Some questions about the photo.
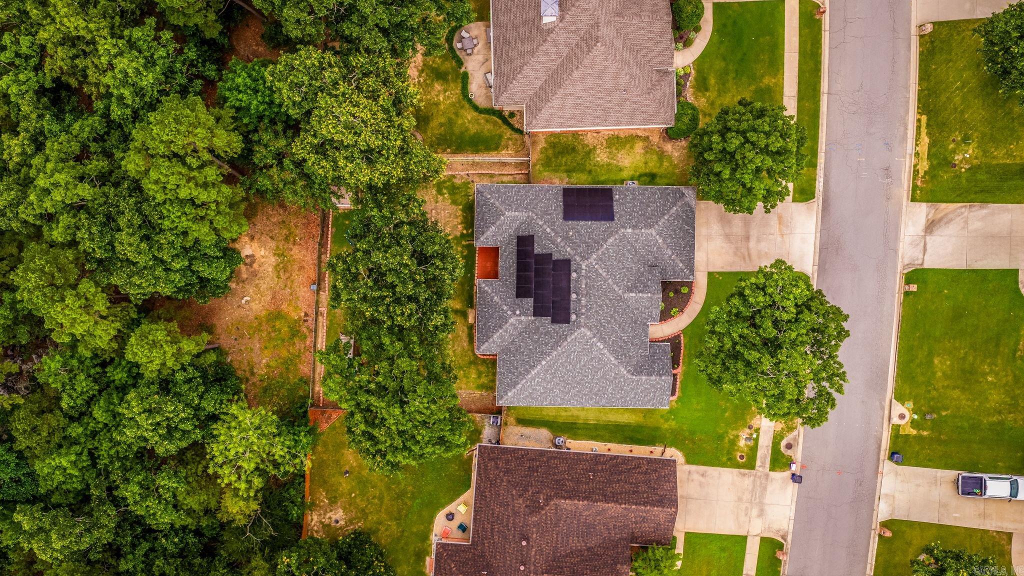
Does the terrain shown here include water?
No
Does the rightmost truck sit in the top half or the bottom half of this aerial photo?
bottom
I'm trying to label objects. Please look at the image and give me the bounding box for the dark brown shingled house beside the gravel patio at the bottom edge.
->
[431,439,678,576]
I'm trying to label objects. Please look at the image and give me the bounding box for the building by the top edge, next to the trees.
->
[491,0,679,136]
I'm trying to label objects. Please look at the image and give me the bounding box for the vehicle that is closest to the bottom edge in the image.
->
[952,470,1024,502]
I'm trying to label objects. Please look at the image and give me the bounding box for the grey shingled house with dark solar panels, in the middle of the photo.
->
[474,183,696,408]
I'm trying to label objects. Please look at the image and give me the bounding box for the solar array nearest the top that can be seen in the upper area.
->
[563,188,614,221]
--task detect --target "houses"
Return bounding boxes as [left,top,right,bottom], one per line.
[431,439,678,576]
[474,183,696,408]
[491,0,679,136]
